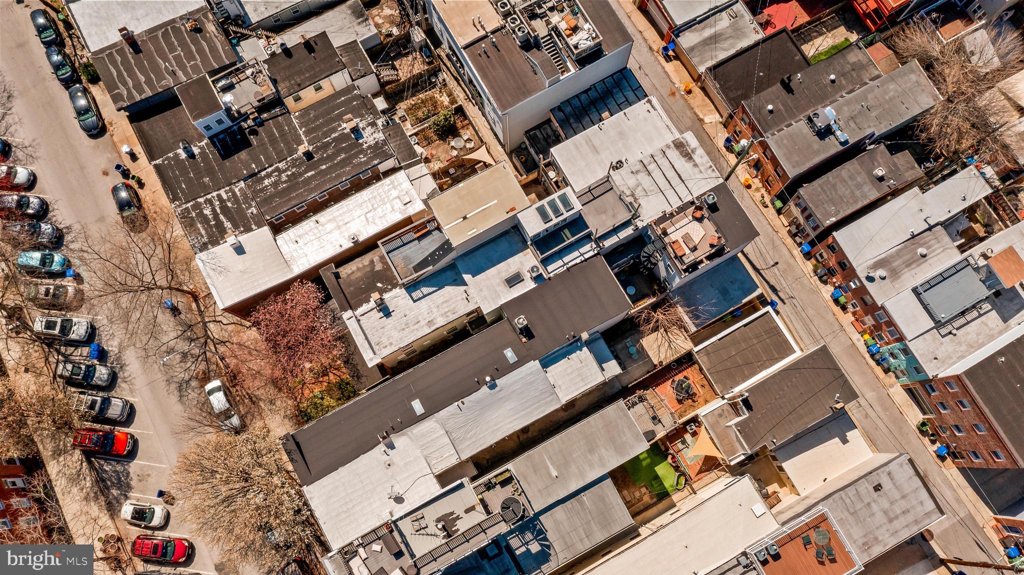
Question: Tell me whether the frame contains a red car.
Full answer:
Yes, the photo shows a red car.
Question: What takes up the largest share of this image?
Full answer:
The largest share of the image is taken up by buildings.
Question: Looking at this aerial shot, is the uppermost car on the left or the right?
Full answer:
The uppermost car sits on the left side.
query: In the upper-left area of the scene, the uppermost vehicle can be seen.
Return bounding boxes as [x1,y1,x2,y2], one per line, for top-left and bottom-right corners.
[28,5,65,49]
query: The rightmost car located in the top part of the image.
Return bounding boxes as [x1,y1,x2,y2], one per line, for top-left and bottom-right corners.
[113,180,153,234]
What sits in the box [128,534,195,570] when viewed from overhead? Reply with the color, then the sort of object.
red car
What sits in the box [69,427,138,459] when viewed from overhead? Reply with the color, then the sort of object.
red car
